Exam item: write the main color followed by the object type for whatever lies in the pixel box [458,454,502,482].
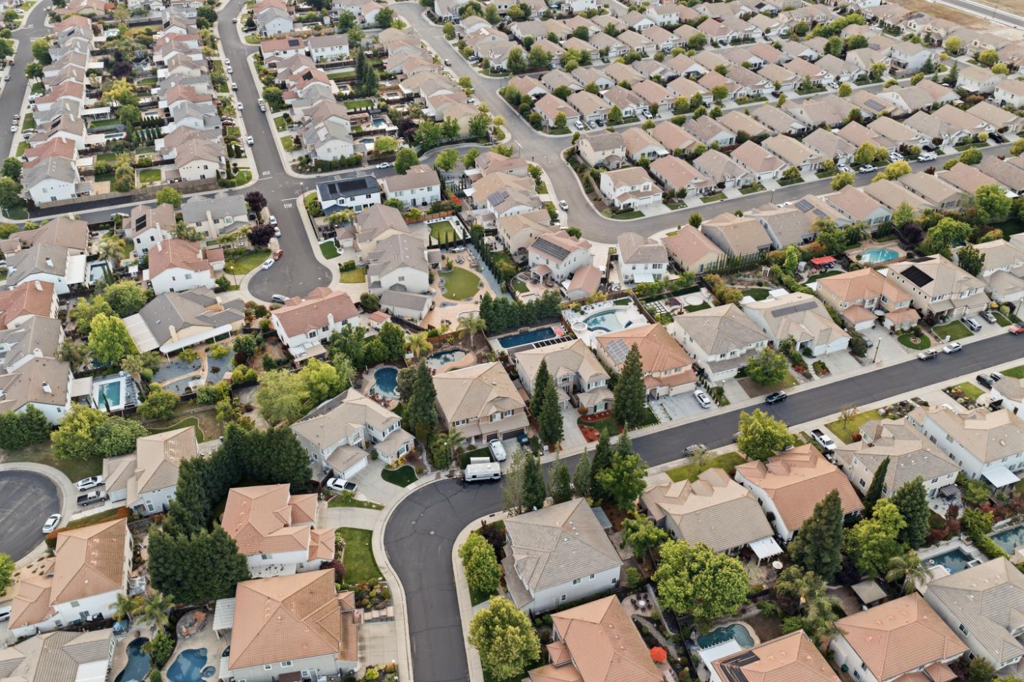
white trailer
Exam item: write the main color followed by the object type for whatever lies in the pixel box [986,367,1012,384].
white car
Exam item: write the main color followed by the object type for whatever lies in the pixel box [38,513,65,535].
white car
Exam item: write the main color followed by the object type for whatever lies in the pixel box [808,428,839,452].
white truck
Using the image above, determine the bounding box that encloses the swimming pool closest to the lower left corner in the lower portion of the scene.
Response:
[117,635,154,682]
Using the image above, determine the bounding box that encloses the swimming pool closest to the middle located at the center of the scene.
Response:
[497,326,556,349]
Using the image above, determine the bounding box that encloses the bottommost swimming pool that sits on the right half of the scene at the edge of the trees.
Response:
[697,622,757,650]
